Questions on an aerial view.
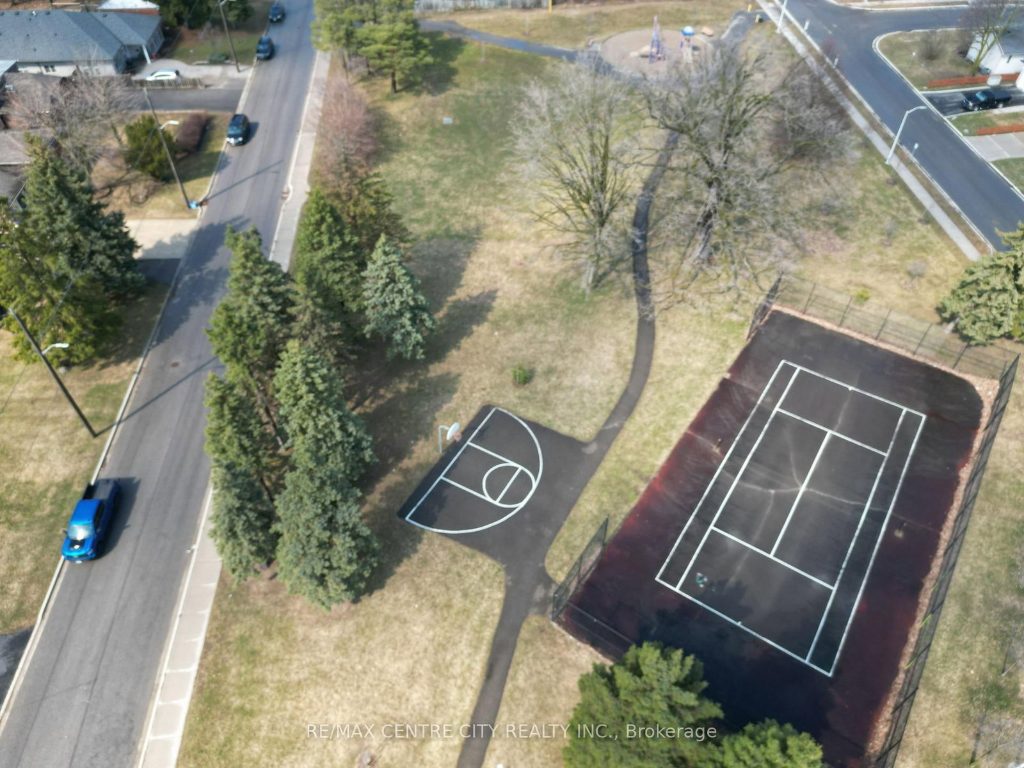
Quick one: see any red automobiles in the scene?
No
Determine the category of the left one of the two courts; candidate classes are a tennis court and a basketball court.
basketball court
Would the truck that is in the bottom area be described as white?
No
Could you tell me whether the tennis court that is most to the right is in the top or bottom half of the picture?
bottom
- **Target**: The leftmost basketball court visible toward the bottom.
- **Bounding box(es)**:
[398,405,611,579]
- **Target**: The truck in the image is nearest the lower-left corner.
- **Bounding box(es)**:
[63,479,126,561]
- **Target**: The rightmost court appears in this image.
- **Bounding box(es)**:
[553,309,983,768]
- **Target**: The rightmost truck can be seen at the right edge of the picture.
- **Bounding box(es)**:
[961,88,1015,110]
